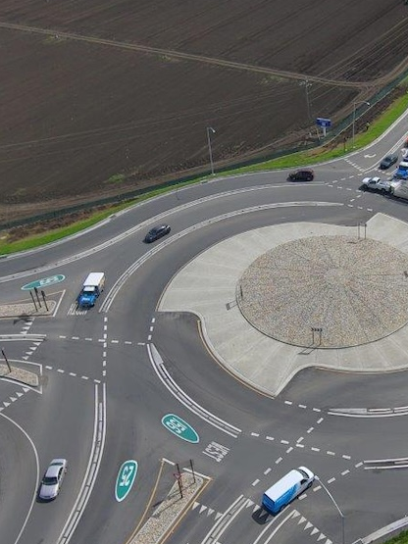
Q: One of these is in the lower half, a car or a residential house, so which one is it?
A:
car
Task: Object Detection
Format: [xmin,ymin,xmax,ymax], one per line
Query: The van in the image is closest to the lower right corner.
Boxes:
[260,475,316,521]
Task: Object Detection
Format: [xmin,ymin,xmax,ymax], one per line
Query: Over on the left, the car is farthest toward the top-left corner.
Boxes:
[141,223,171,245]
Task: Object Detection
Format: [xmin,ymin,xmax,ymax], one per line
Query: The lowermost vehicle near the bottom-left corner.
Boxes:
[36,463,67,503]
